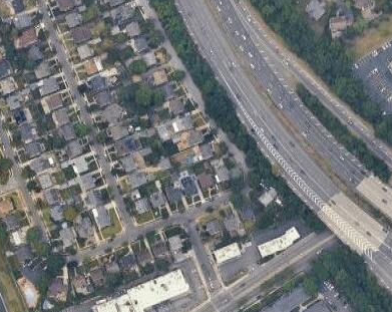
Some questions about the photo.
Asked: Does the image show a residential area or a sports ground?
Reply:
residential area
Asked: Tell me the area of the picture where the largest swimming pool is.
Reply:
bottom left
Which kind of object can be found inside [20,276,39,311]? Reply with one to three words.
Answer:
swimming pool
